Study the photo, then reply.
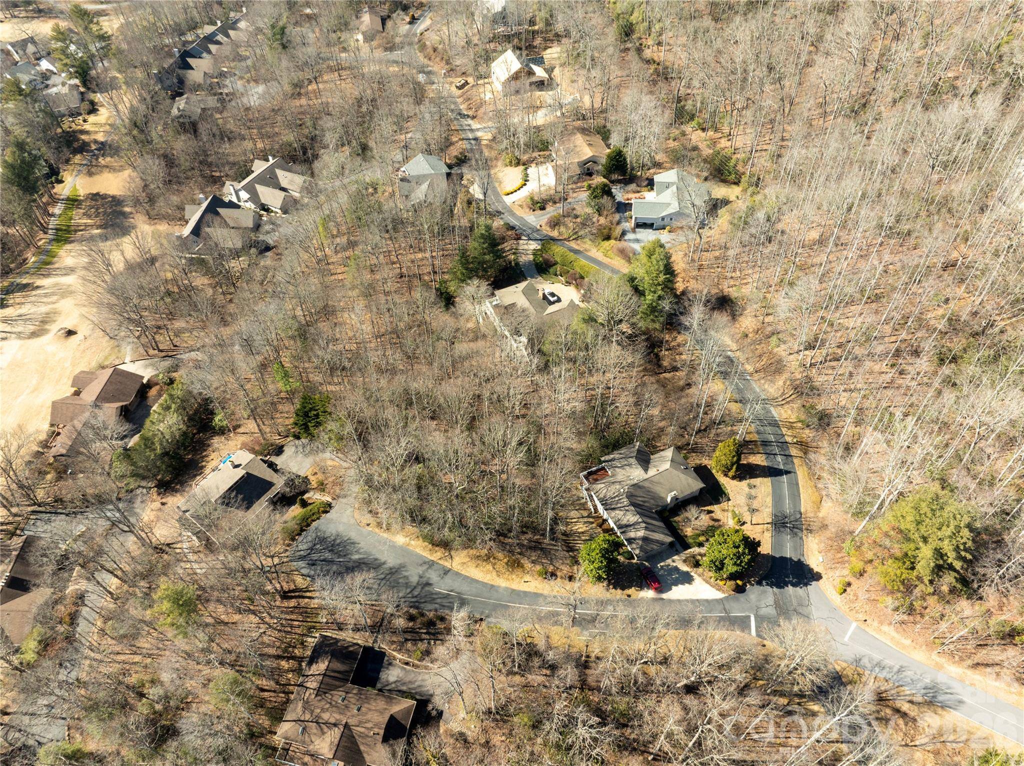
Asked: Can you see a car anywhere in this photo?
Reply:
Yes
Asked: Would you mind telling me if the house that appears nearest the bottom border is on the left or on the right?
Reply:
left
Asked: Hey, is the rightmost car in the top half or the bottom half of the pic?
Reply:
bottom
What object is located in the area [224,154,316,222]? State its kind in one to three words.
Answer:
house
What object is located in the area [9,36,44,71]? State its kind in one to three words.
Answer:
house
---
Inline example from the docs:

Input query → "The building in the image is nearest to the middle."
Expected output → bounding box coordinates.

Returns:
[475,280,577,366]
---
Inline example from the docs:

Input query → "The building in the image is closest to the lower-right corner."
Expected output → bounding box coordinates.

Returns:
[579,442,705,567]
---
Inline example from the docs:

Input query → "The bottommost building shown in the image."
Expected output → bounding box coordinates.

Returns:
[271,634,416,766]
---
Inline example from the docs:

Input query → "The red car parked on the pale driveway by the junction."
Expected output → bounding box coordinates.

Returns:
[638,564,663,591]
